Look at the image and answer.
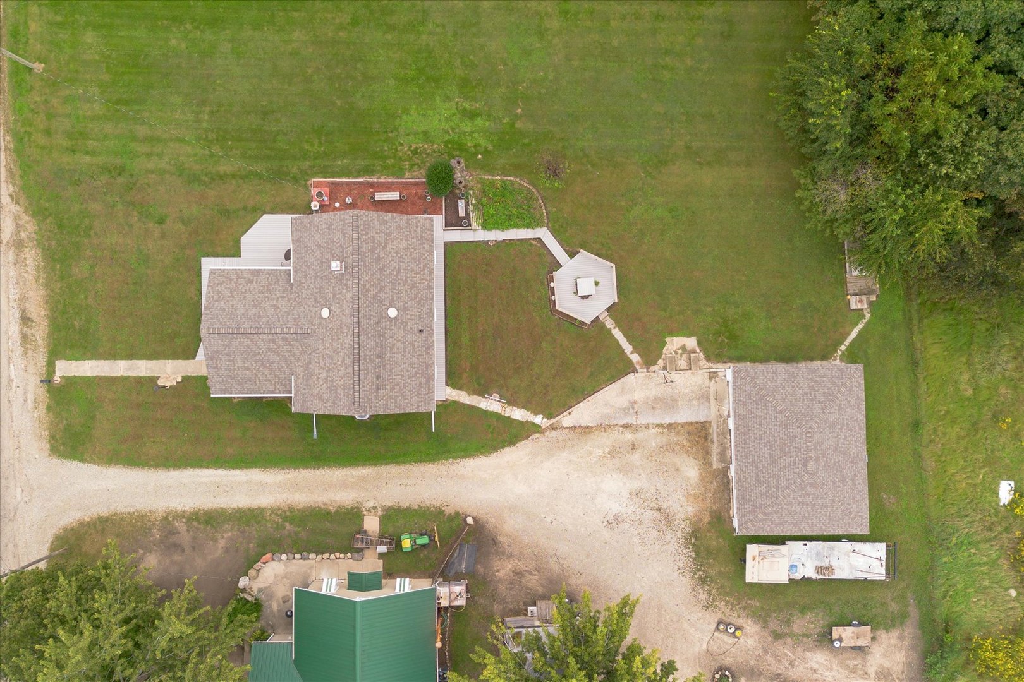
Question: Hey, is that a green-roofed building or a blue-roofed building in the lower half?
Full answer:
The one visible in the lower half is a green-roofed building.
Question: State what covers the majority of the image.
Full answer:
The scene is dominated by grass.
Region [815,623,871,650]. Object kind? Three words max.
trailer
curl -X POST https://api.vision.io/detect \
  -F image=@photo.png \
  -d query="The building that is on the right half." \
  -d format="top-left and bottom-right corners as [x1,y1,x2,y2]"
[725,363,870,537]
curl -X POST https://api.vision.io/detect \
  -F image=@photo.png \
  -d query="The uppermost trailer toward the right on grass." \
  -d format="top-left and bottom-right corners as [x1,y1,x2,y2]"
[740,537,898,582]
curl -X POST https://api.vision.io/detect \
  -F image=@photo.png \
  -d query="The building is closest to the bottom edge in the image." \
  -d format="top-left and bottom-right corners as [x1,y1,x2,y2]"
[247,586,438,682]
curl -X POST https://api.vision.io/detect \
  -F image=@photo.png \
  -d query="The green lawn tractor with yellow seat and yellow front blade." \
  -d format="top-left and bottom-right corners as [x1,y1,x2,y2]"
[400,529,440,554]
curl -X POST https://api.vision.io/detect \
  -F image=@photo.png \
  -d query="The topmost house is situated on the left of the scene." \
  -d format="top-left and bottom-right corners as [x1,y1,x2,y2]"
[201,210,439,439]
